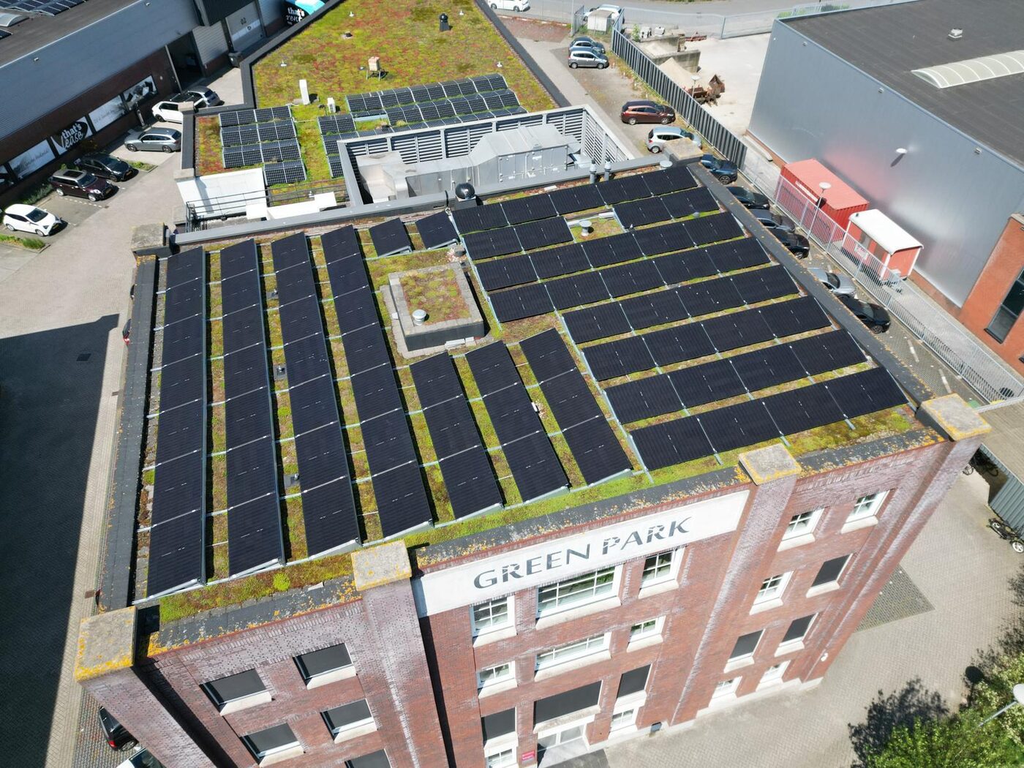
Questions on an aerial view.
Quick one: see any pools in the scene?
No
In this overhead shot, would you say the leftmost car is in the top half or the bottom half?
top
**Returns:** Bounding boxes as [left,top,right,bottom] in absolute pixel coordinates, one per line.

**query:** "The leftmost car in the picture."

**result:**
[0,201,62,236]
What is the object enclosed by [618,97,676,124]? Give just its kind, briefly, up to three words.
car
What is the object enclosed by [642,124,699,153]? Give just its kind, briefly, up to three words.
car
